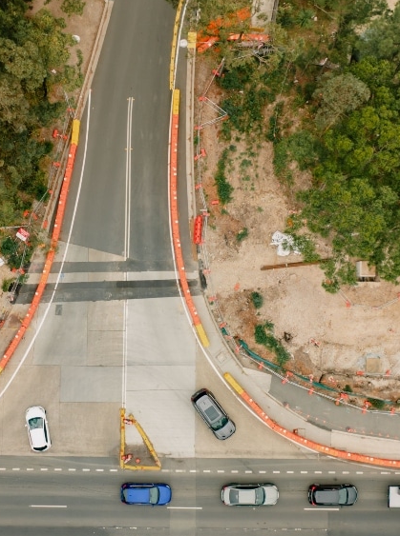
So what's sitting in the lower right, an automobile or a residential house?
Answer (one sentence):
Looking in the lower right, you will find an automobile.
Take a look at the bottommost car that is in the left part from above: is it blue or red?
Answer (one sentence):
The bottommost car that is in the left part looks blue in the image.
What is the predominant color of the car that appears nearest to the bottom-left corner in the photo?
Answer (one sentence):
The car that appears nearest to the bottom-left corner looks white in the image.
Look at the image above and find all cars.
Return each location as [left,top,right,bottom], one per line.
[24,405,51,454]
[221,481,277,509]
[307,482,357,509]
[121,481,172,509]
[191,386,234,442]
